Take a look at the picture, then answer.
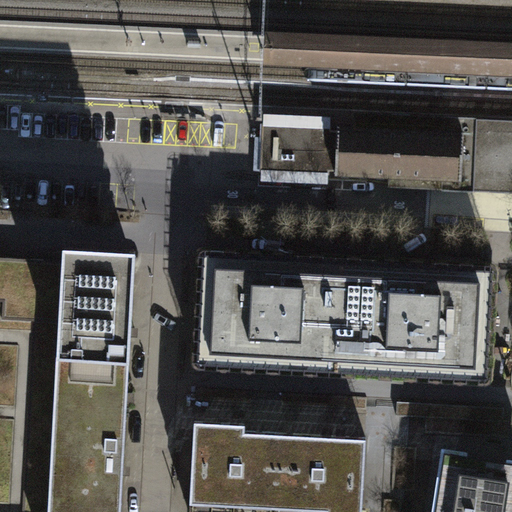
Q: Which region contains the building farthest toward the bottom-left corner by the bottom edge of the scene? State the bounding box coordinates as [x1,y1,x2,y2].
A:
[47,360,129,512]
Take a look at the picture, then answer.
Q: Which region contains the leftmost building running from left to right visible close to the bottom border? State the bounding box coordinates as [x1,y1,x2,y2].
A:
[188,424,366,512]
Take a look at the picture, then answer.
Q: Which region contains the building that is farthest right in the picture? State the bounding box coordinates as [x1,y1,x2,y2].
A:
[474,118,512,192]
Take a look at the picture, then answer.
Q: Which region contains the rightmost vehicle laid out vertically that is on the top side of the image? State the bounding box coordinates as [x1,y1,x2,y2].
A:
[212,120,224,147]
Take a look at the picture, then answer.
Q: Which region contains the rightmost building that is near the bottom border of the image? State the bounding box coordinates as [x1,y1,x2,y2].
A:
[432,448,512,512]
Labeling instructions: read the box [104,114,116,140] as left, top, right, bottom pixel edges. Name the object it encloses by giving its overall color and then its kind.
black vehicle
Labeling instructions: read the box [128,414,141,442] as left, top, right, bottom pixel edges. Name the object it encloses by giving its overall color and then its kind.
black vehicle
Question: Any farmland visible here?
No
